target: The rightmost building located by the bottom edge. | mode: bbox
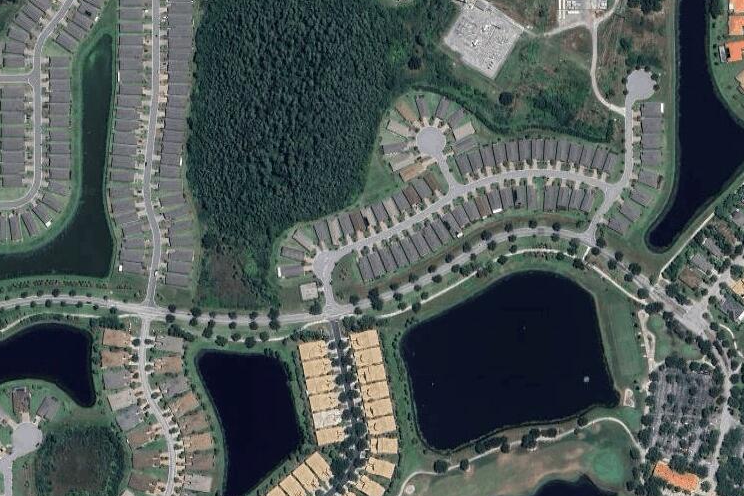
[652,462,700,491]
